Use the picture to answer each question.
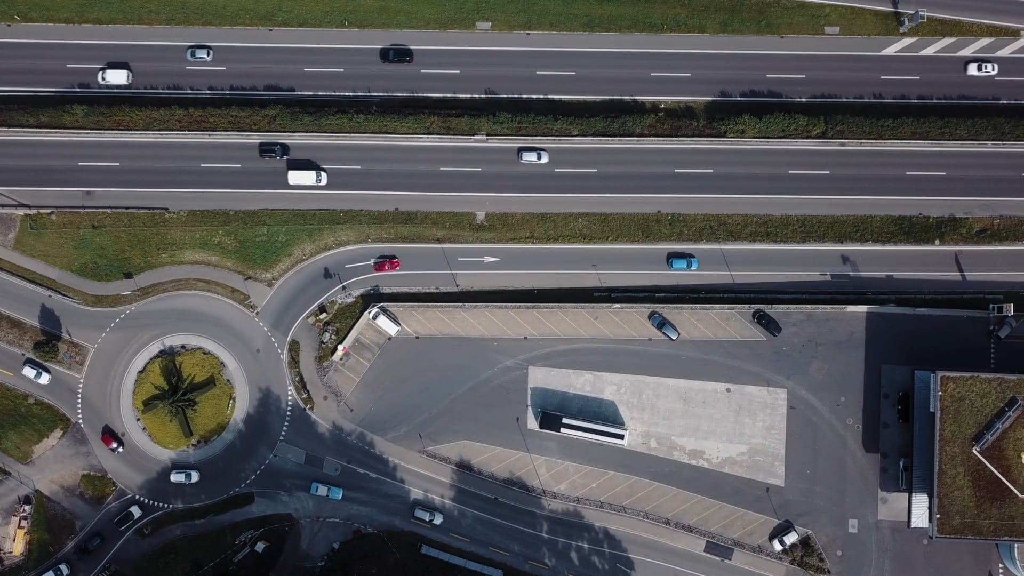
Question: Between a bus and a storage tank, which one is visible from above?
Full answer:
I can see a bus in this picture.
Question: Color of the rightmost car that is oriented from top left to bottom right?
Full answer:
The rightmost car that is oriented from top left to bottom right is black.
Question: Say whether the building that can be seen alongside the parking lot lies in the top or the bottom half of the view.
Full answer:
The bottom half of the photo is where the building that can be seen alongside the parking lot is.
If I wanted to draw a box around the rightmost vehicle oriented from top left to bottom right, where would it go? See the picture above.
[752,310,782,337]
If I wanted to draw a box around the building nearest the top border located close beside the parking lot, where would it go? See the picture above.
[922,364,1024,543]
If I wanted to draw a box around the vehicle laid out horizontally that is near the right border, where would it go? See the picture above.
[966,61,997,76]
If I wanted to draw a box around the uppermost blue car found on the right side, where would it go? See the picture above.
[669,256,697,271]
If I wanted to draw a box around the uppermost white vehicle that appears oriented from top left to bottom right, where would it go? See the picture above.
[368,307,403,339]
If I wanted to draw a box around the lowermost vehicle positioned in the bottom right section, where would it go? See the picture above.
[770,525,800,549]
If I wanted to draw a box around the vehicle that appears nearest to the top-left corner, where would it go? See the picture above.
[98,68,133,84]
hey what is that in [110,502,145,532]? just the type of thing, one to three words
truck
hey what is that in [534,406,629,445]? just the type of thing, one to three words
bus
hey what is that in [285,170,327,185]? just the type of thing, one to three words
vehicle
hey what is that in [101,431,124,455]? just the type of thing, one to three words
car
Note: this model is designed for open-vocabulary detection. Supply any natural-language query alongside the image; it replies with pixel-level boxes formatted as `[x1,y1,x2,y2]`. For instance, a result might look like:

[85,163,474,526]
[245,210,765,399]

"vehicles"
[752,310,782,337]
[39,560,72,576]
[98,68,133,84]
[20,363,53,384]
[519,149,549,163]
[170,469,201,484]
[186,46,214,61]
[101,431,124,455]
[650,312,679,340]
[534,406,629,445]
[368,307,403,339]
[373,258,401,271]
[259,144,290,159]
[966,61,997,76]
[310,482,343,499]
[770,525,800,549]
[110,502,145,532]
[285,170,327,185]
[669,256,697,271]
[411,505,443,525]
[381,47,413,63]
